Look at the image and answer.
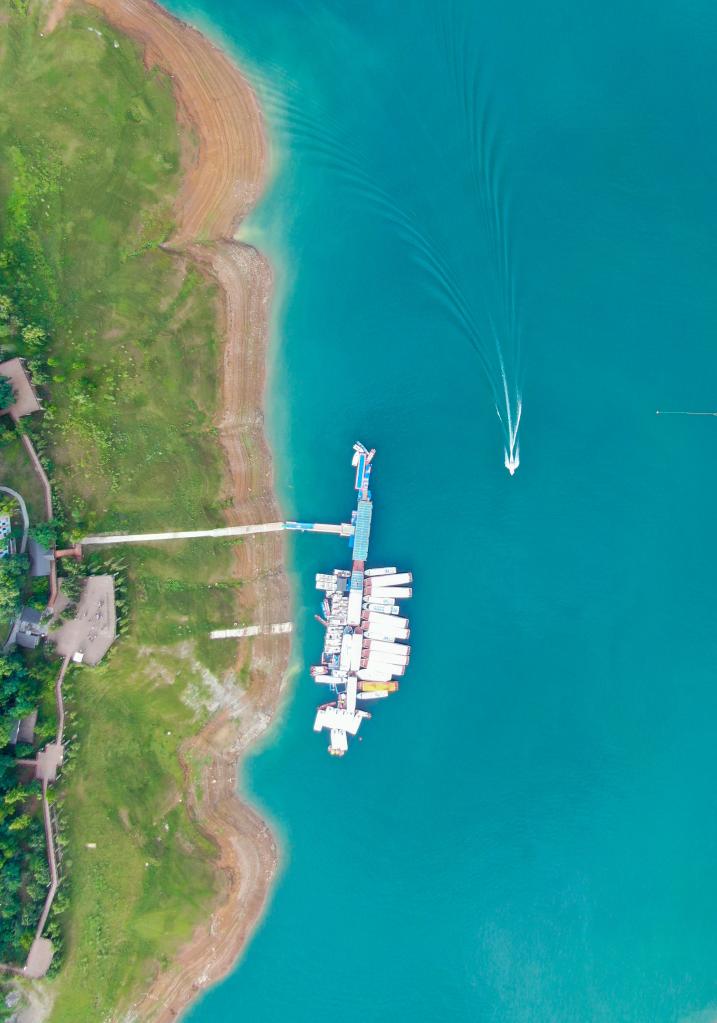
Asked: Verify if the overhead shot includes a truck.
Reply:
No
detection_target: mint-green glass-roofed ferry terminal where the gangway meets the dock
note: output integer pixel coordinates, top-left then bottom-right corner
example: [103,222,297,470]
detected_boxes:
[353,501,372,561]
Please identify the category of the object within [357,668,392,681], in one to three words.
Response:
boat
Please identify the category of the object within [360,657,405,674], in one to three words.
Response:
boat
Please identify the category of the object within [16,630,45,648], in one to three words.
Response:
house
